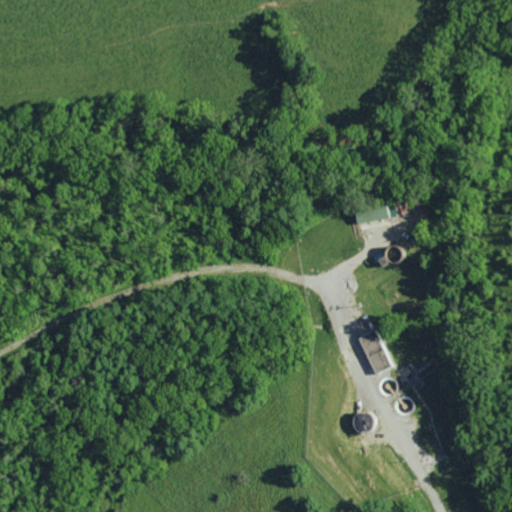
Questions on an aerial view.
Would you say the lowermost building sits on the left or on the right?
right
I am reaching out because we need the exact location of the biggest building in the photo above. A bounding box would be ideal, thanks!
[359,330,393,374]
